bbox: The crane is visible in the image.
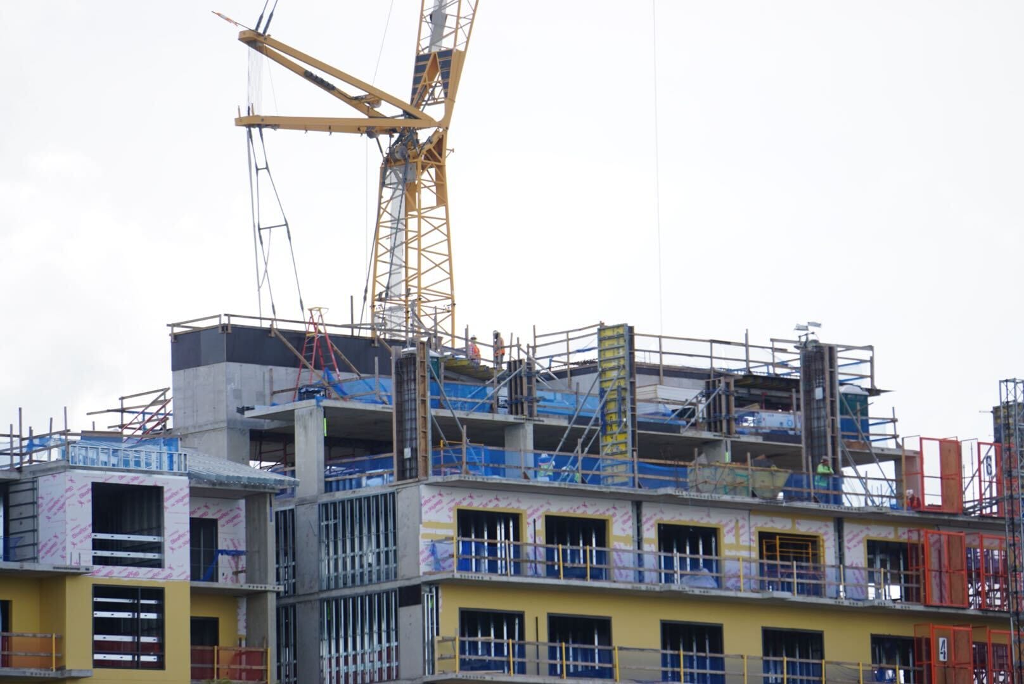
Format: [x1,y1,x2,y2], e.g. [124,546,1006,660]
[211,0,481,347]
